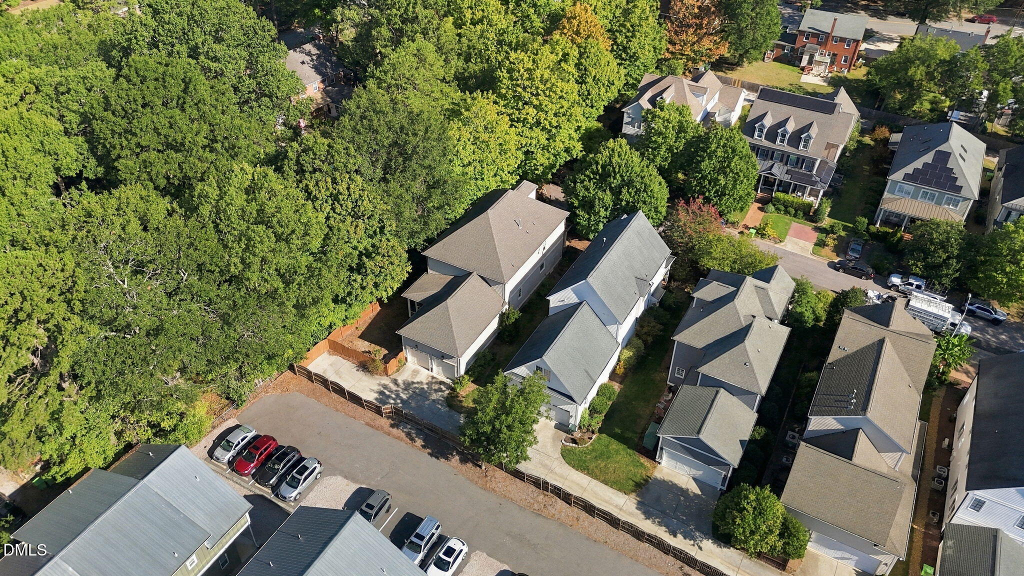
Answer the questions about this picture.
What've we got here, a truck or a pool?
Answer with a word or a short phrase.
truck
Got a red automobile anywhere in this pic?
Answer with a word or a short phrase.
Yes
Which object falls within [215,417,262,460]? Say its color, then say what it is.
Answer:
gray car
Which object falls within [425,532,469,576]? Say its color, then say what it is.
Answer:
white car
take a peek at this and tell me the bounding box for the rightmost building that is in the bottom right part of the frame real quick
[932,355,1024,576]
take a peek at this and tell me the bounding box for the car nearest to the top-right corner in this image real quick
[972,12,1001,24]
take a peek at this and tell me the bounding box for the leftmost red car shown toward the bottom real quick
[237,427,283,473]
